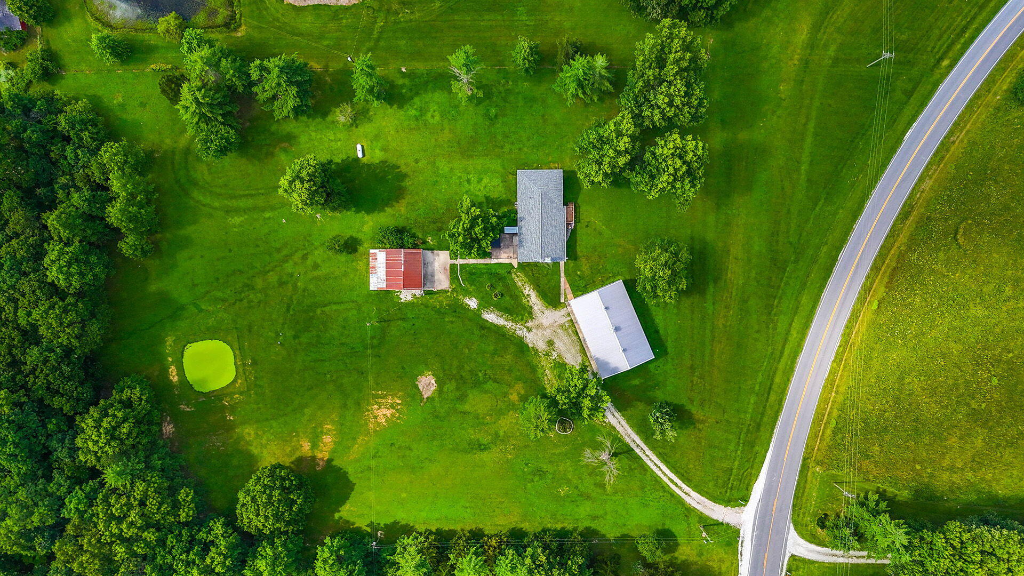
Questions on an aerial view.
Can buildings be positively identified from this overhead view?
Yes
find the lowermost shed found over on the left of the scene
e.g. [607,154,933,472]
[370,249,423,290]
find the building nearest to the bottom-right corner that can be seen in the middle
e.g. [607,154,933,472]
[569,280,654,378]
